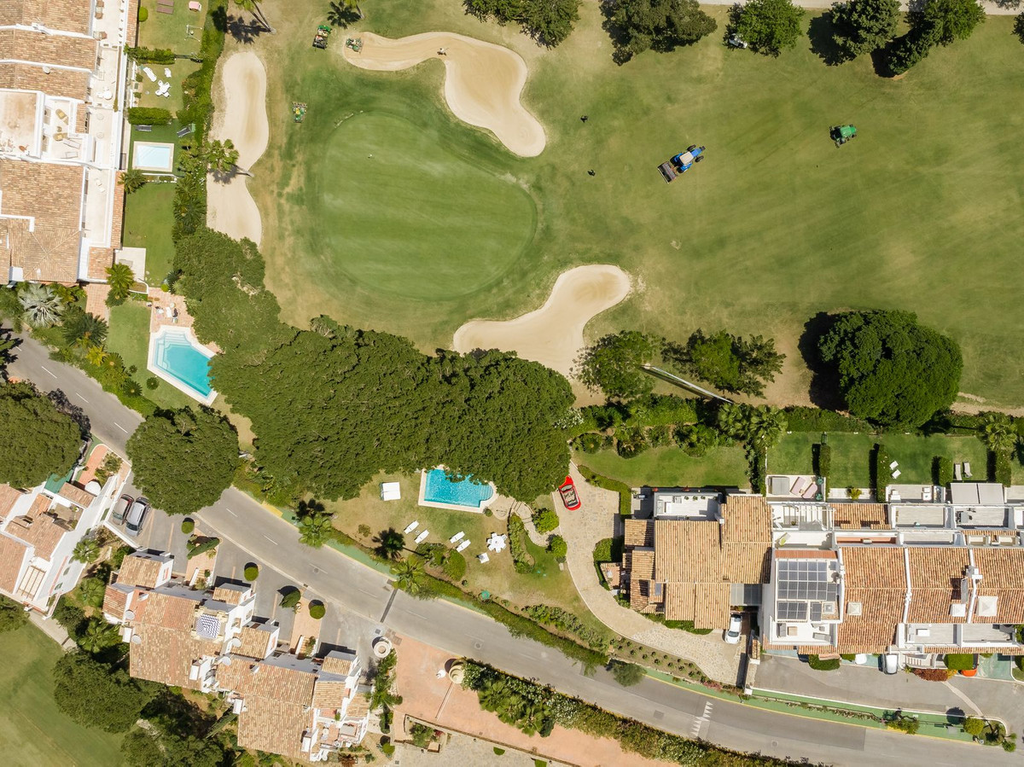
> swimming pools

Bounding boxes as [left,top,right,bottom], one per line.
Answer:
[147,325,226,407]
[132,141,174,172]
[418,466,499,513]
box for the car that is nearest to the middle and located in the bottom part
[558,475,582,514]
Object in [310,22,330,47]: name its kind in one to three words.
vehicle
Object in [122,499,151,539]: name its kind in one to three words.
car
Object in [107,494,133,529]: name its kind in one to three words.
car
